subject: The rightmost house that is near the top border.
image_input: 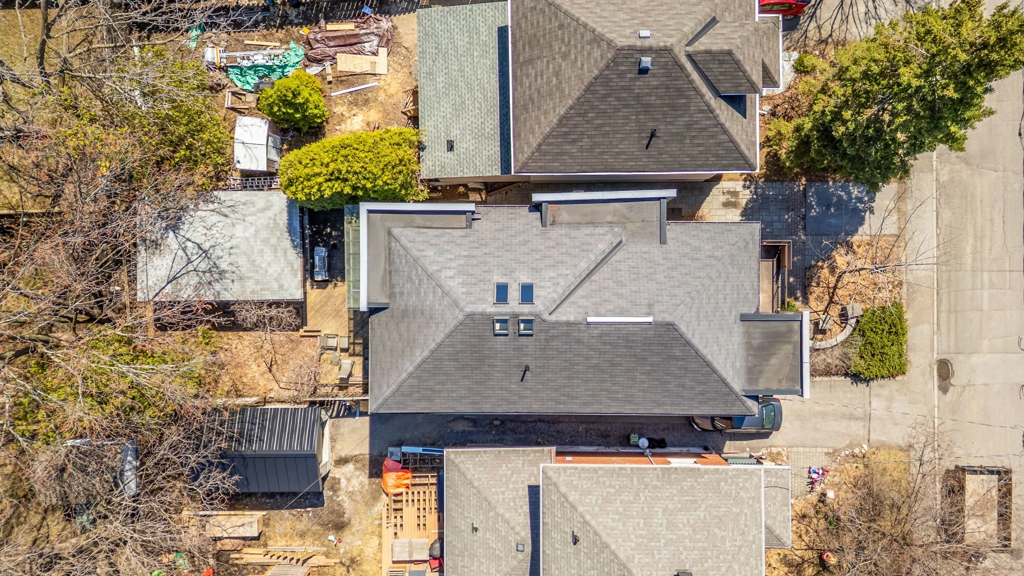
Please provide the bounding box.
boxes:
[506,0,783,181]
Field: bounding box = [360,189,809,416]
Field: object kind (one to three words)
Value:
house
